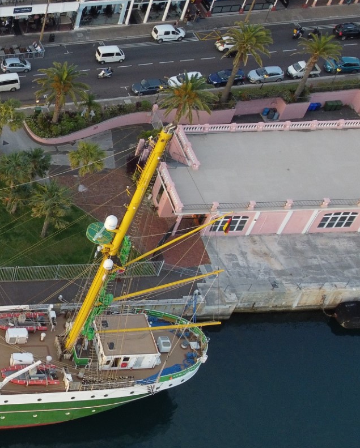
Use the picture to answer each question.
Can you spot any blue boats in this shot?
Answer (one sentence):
No, the photo shows no blue boat.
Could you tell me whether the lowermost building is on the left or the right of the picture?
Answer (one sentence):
The lowermost building is on the right side of the image.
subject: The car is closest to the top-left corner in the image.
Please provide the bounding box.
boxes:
[2,58,33,74]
